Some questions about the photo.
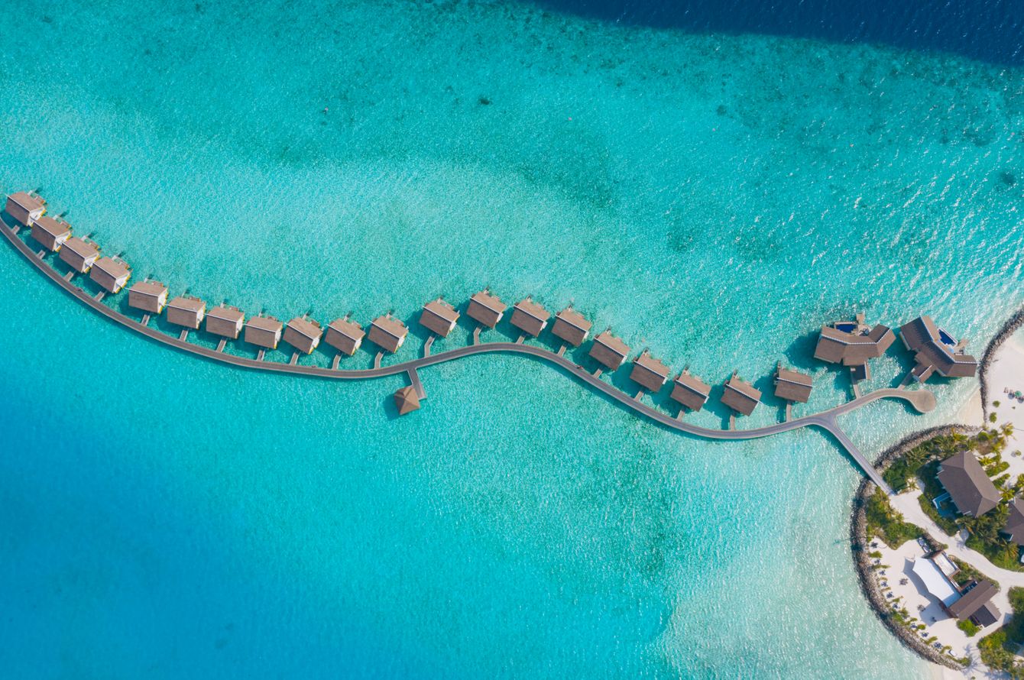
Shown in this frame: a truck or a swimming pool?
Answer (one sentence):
It is a swimming pool that can be seen here.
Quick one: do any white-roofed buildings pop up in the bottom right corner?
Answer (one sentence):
Yes, I can see a white-roofed building in the bottom right corner.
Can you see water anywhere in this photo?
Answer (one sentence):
Yes, the picture does contain water.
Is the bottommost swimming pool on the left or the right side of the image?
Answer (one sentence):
The bottommost swimming pool sits on the right side.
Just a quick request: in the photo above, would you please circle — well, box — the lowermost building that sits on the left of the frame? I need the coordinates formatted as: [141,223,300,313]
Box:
[394,387,420,415]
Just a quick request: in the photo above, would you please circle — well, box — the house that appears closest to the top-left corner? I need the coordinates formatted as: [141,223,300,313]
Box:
[5,189,49,227]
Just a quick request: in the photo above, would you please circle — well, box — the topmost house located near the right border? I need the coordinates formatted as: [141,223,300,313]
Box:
[935,451,1001,517]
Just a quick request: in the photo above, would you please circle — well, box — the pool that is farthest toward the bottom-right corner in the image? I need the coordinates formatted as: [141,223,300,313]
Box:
[935,493,964,519]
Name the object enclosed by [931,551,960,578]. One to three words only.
building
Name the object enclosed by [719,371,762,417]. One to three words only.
house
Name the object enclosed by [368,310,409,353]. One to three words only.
house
